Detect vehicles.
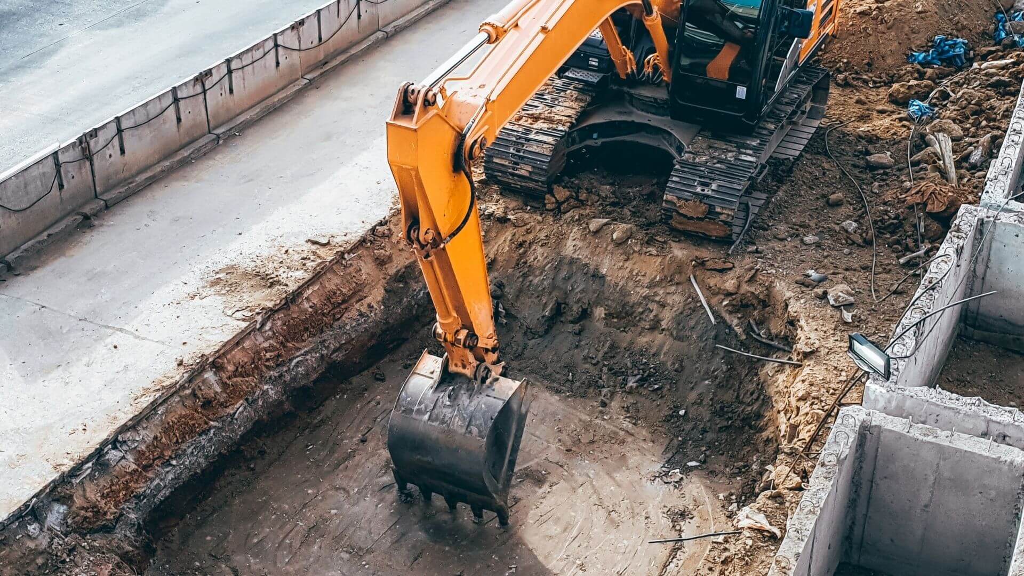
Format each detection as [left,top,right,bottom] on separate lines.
[378,0,849,526]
